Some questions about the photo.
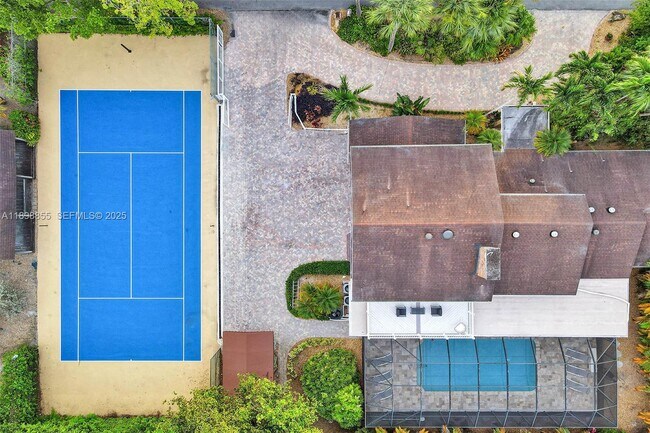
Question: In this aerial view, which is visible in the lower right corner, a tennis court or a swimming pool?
swimming pool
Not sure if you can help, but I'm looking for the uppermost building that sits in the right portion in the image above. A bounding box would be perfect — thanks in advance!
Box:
[348,105,650,340]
